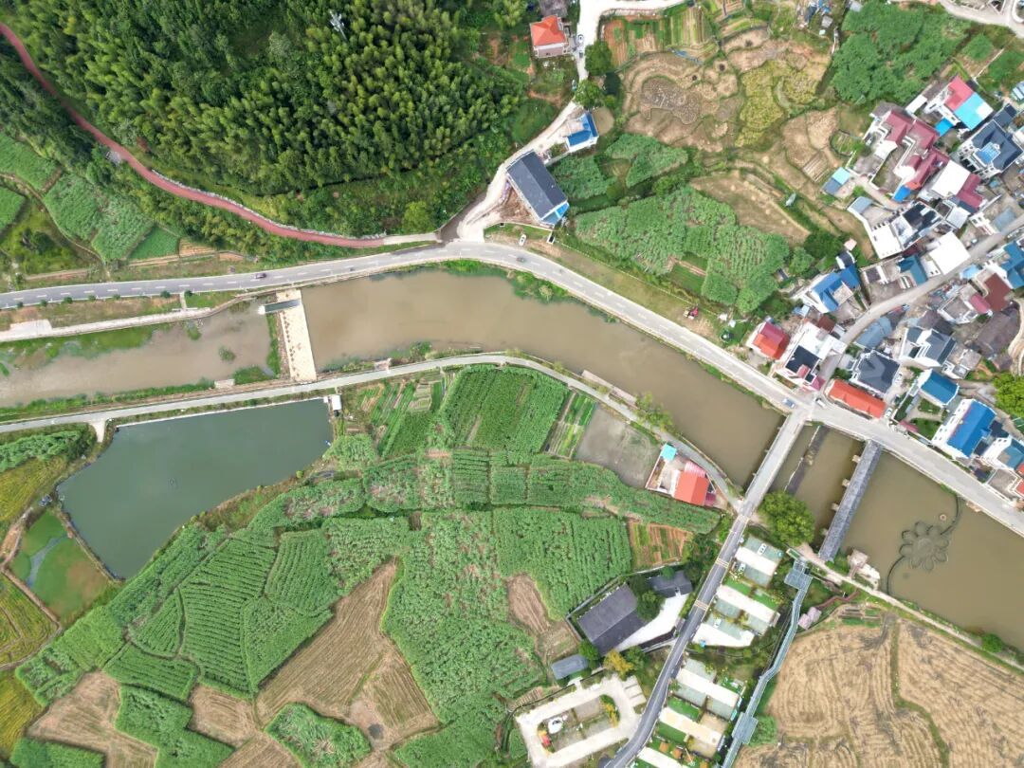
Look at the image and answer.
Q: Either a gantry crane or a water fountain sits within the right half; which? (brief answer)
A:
water fountain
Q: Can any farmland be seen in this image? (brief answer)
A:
Yes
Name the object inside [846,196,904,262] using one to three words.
house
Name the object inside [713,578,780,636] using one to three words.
building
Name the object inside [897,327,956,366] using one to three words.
house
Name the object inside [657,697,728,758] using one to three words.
building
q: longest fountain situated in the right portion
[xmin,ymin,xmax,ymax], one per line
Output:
[887,497,959,594]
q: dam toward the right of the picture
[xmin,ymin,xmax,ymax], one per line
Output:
[785,430,827,495]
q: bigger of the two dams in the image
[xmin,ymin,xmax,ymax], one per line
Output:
[258,290,317,380]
